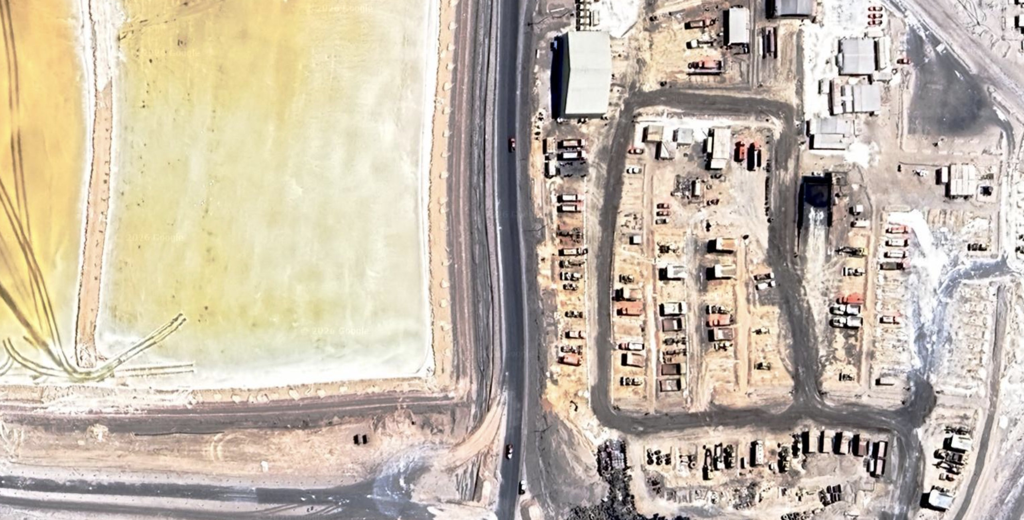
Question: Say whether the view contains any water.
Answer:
Yes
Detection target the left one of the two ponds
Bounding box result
[0,0,91,375]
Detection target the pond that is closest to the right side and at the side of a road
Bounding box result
[104,0,426,368]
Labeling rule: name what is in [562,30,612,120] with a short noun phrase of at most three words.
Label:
shed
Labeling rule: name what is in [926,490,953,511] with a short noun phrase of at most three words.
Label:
truck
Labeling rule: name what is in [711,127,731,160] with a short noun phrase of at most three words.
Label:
building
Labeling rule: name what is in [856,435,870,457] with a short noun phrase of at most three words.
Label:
vehicle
